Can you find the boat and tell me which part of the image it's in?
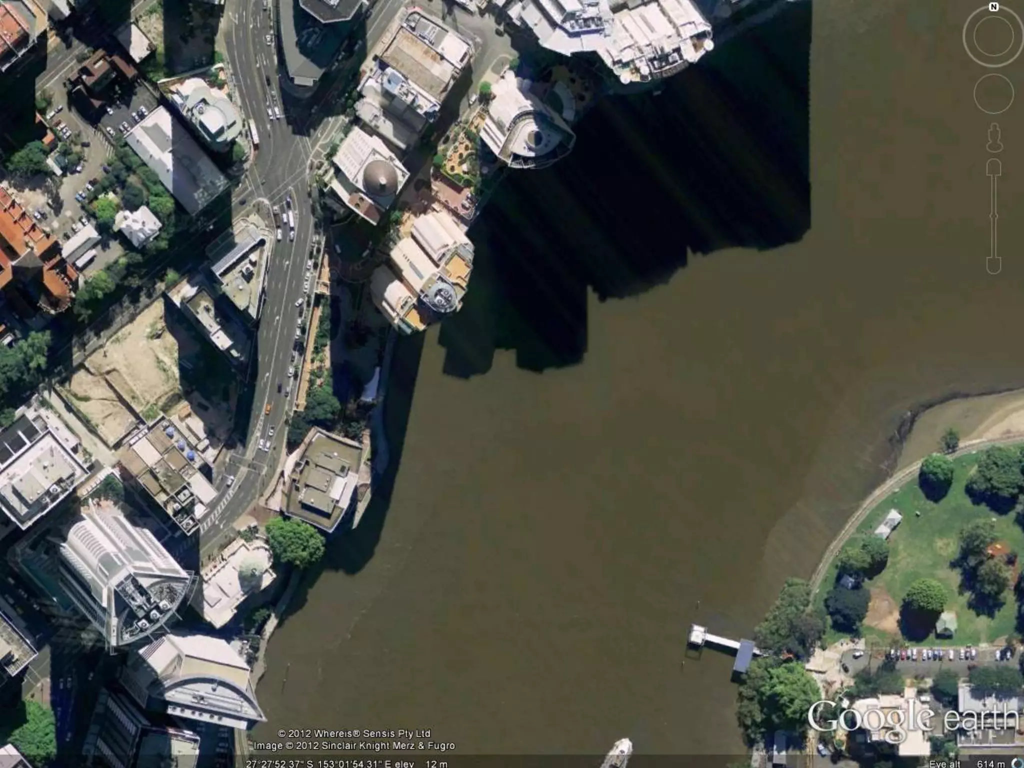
bottom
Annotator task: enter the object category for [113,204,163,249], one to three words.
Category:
house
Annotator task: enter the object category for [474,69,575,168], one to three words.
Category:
building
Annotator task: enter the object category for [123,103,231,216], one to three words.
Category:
building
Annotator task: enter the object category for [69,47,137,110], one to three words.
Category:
house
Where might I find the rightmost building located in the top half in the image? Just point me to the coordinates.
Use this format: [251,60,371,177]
[592,0,712,83]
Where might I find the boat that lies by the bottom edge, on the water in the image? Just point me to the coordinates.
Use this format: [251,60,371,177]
[605,739,632,768]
